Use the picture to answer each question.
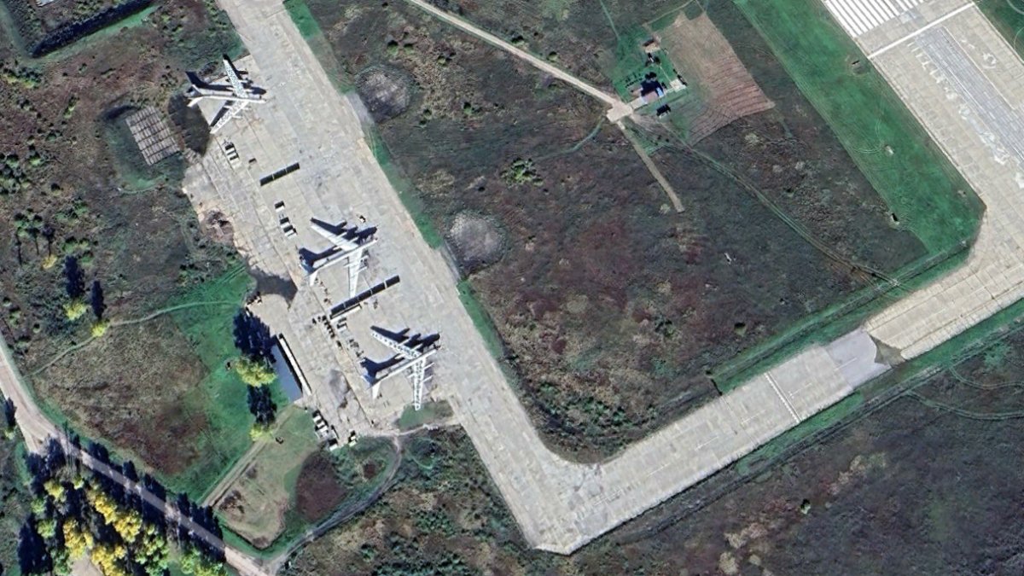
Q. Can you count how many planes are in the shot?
3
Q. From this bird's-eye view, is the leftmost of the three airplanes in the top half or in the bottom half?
top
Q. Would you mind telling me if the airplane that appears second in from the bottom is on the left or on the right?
left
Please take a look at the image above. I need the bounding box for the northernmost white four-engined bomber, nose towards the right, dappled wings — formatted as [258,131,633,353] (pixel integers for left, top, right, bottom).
[184,58,267,136]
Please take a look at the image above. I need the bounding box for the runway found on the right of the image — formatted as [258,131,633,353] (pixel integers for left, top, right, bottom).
[826,0,1024,222]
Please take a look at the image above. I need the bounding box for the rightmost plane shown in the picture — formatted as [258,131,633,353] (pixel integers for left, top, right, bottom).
[360,337,439,409]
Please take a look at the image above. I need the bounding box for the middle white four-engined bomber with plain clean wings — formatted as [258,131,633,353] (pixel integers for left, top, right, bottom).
[300,224,377,298]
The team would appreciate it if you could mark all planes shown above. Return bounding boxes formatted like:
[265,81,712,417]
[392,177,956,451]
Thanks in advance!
[360,337,439,409]
[184,58,267,136]
[300,224,377,298]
